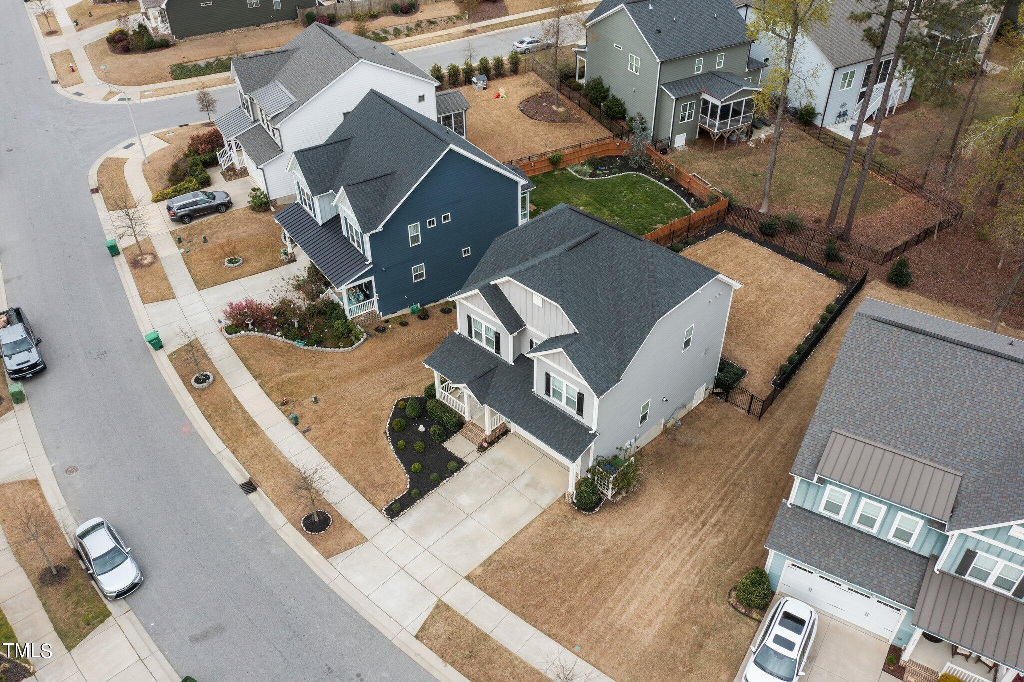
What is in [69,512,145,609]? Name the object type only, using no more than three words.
car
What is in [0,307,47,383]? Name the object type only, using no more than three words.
truck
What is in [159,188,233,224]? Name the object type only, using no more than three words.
car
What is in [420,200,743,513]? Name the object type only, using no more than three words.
house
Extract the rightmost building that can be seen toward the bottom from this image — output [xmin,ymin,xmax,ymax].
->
[761,298,1024,682]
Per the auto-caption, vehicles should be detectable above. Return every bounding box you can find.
[742,589,821,682]
[69,512,145,609]
[0,307,47,383]
[159,188,233,224]
[512,35,557,54]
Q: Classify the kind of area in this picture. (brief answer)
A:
residential area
